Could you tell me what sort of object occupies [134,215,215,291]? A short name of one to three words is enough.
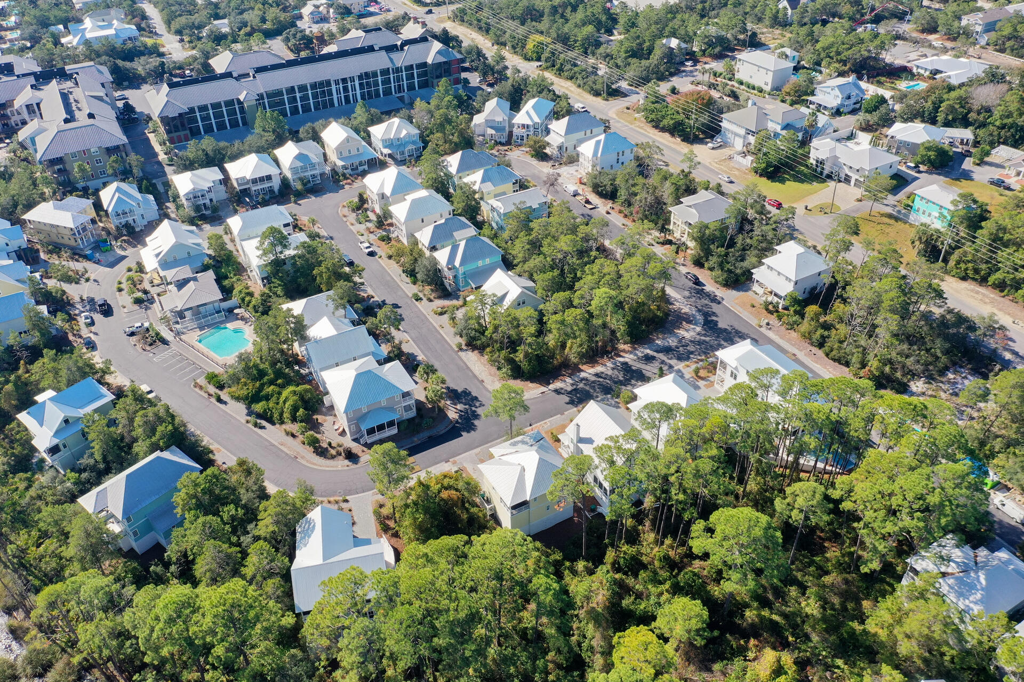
house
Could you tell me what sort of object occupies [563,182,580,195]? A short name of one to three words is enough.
vehicle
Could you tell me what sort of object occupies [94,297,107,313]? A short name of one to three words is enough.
vehicle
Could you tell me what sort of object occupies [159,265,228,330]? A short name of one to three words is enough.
building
